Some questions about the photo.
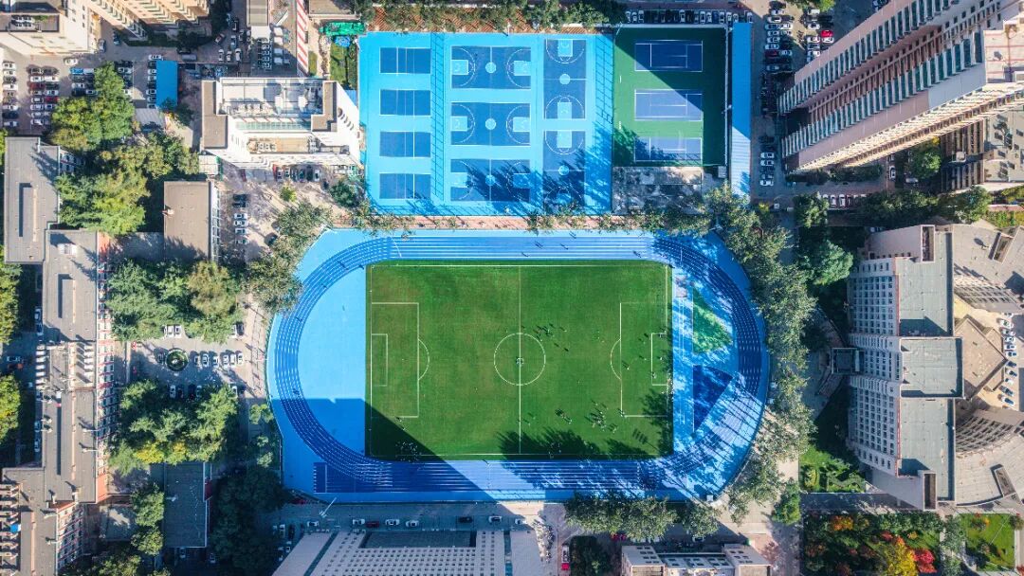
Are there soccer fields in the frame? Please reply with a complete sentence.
Yes, the frame does contain a soccer field.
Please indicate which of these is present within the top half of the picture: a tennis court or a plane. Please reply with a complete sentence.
What appears within the top half of the picture is a tennis court.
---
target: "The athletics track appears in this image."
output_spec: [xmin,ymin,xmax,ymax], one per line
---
[275,235,761,493]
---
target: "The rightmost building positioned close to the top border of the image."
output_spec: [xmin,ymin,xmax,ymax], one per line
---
[776,0,1024,184]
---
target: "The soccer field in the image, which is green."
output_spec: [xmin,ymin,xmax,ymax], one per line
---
[366,260,673,461]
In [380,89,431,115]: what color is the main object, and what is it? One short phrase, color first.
blue sports court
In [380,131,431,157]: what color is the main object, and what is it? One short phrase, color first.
blue sports court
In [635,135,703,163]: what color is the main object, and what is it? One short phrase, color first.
blue tennis court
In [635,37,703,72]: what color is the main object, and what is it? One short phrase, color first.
blue tennis court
